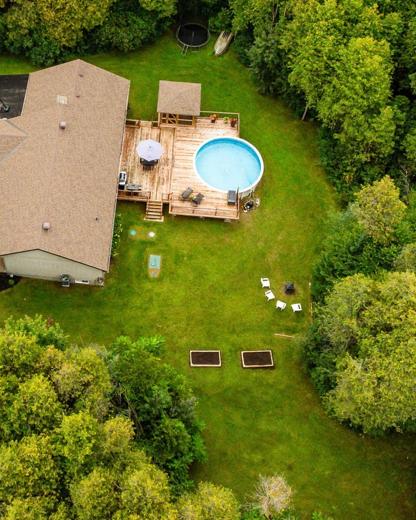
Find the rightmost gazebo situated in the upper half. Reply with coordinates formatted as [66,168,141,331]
[157,81,202,127]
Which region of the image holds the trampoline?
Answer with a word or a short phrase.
top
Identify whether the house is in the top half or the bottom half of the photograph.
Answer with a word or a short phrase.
top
